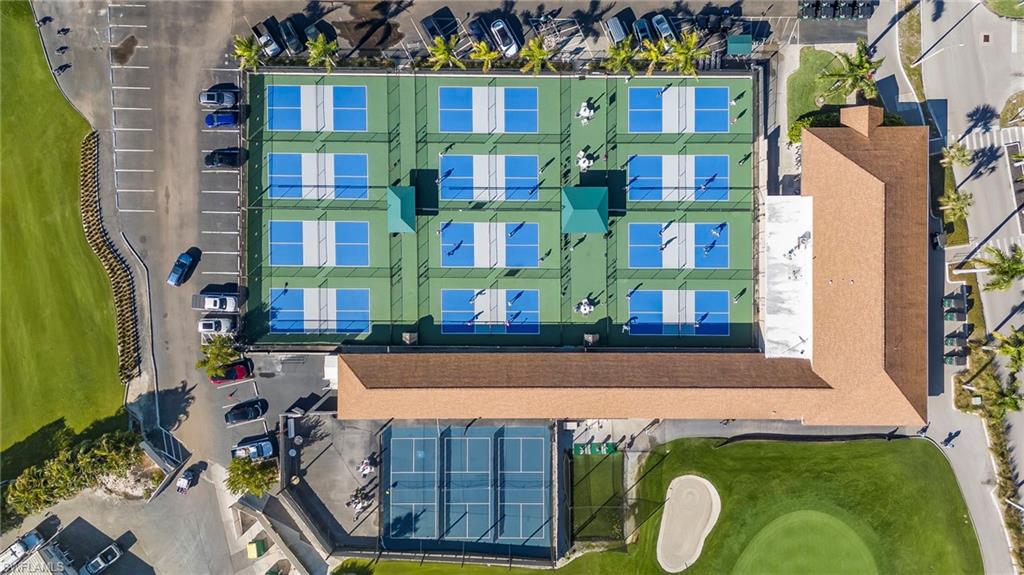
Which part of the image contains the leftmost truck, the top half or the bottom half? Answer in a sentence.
The bottom half of the photo is where the leftmost truck is.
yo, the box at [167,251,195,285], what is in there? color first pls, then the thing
blue car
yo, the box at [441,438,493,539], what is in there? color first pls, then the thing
blue tennis court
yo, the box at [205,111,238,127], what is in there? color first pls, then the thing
blue car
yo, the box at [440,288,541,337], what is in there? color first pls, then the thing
blue sports court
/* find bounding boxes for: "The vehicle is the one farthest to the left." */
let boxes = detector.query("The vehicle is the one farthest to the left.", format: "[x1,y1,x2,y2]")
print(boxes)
[0,531,45,574]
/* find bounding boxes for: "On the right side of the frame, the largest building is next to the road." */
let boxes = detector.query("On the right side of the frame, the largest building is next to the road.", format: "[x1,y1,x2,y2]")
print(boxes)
[337,103,929,426]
